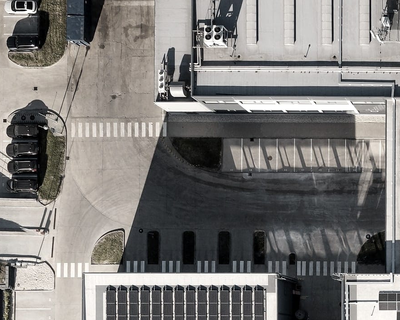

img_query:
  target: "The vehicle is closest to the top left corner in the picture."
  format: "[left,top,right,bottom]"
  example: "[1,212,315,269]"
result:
[5,0,39,16]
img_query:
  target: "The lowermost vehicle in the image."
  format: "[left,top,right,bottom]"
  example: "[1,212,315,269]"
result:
[7,177,41,194]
